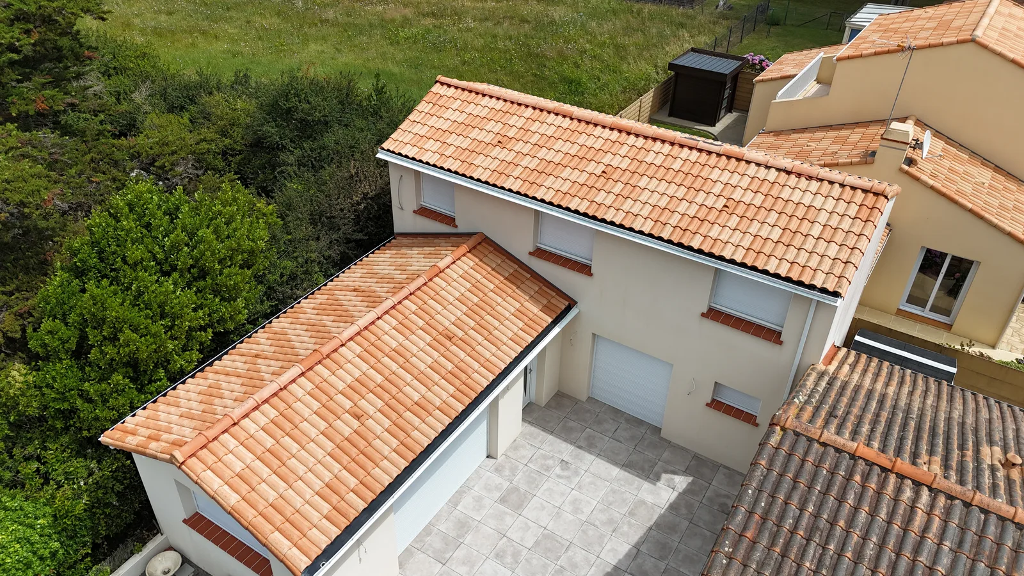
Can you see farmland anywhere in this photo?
No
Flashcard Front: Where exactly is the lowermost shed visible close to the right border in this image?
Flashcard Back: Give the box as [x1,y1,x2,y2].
[703,346,1024,576]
